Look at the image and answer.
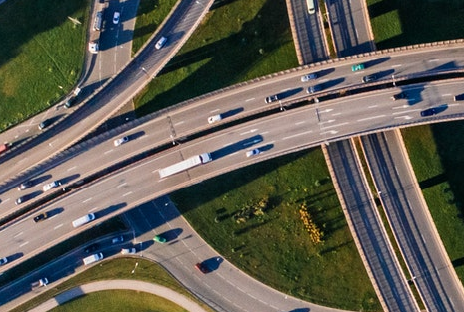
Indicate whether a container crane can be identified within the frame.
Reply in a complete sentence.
No, no container crane is visible in the scene.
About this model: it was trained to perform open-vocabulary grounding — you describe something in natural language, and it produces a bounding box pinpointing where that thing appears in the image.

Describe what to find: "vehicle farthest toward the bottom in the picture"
[28,275,52,291]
